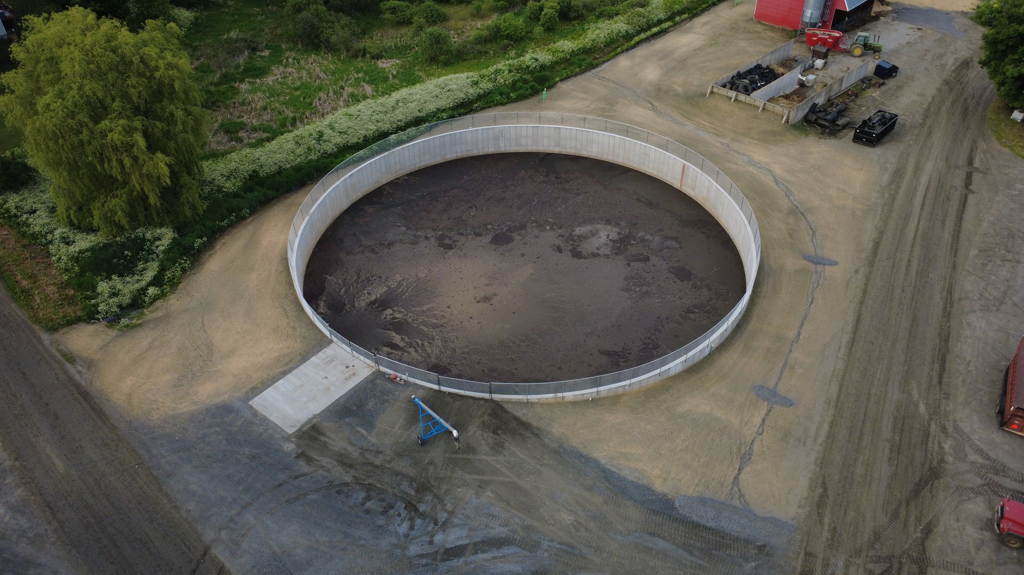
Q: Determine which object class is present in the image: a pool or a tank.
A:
tank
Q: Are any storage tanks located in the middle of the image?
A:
Yes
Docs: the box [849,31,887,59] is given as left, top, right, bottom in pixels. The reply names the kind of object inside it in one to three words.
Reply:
work vehicle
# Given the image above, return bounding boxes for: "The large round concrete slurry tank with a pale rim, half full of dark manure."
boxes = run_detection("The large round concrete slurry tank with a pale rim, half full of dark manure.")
[293,124,757,406]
